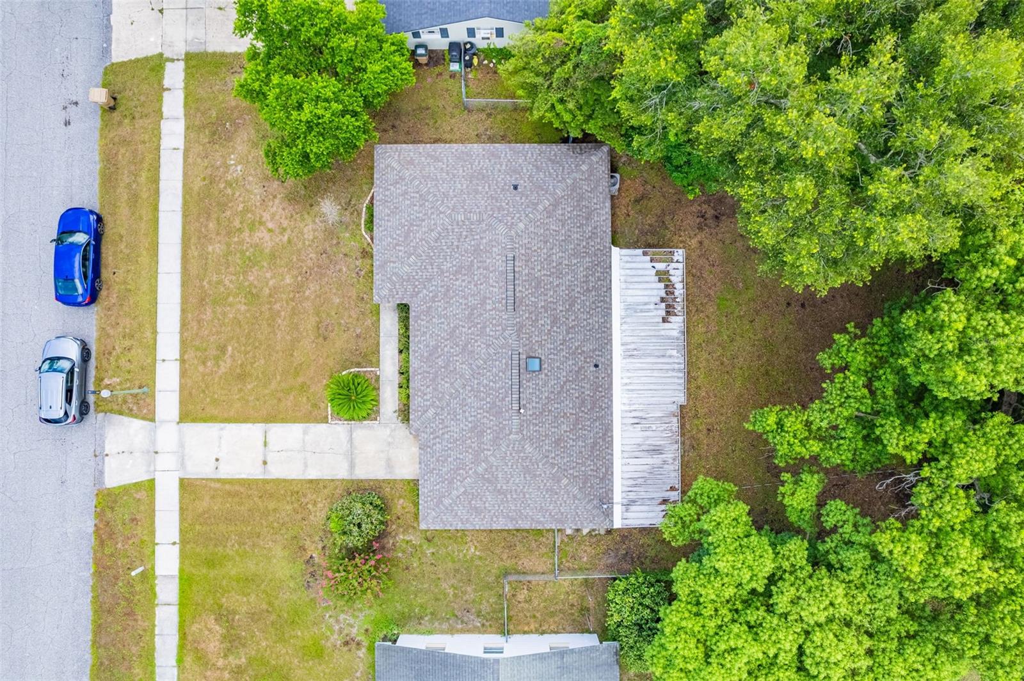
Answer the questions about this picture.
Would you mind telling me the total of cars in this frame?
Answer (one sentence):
Altogether the scene contains 2 cars.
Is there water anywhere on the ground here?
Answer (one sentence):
No, the picture contains no water.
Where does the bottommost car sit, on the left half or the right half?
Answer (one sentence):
The bottommost car sits on the left side.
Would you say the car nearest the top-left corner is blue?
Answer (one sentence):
Yes, the car nearest the top-left corner is blue.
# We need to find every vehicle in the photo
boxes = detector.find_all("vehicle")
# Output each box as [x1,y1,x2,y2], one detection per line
[48,208,104,306]
[33,336,90,428]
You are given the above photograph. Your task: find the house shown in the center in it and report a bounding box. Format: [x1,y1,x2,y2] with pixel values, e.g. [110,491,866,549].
[372,142,615,531]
